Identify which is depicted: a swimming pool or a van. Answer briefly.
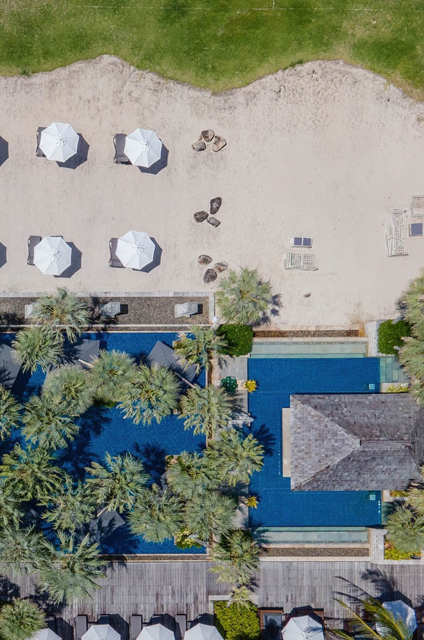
swimming pool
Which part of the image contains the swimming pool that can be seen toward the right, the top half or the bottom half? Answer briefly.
bottom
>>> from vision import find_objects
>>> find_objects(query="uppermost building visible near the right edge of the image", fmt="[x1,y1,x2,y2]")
[291,394,424,491]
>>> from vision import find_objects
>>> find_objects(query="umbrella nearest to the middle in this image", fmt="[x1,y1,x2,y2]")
[115,231,155,270]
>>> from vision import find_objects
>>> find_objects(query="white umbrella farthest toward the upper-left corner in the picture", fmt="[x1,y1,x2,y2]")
[39,123,79,163]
